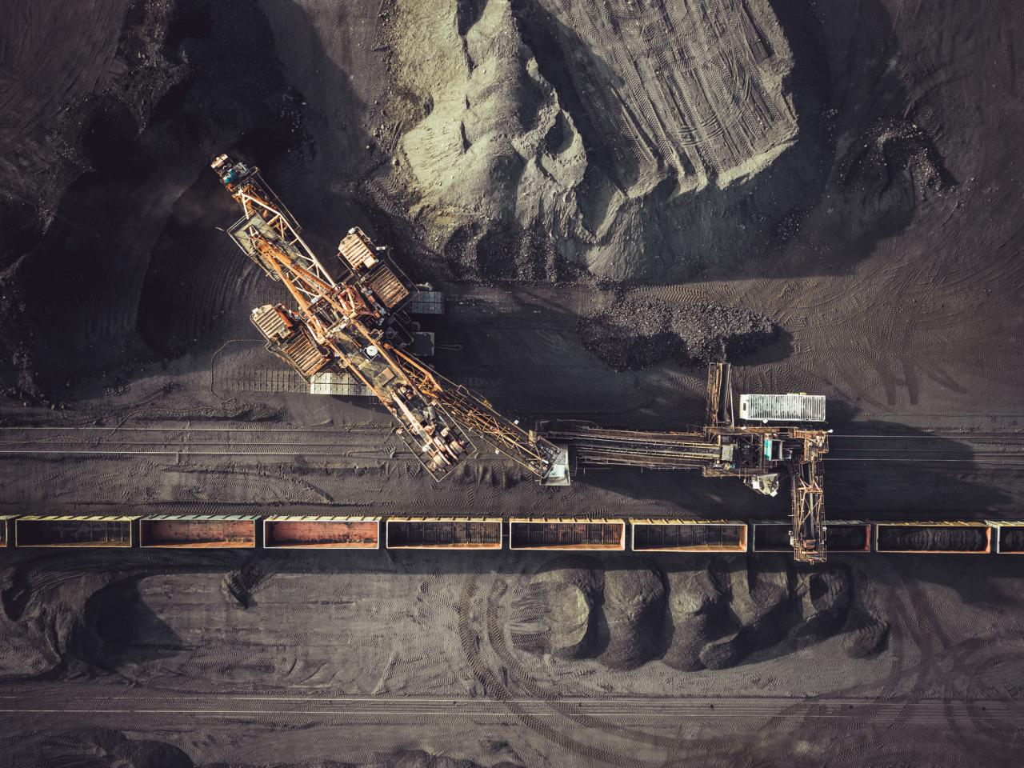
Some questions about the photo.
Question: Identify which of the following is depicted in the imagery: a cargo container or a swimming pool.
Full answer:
This aerial view contains a cargo container.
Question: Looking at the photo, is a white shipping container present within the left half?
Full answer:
No, no white shipping container is visible within the left half.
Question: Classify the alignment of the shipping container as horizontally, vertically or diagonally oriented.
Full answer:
What the image shows is the shipping container lying horizontally.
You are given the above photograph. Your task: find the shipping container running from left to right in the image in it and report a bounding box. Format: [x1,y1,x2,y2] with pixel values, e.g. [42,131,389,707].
[733,391,827,425]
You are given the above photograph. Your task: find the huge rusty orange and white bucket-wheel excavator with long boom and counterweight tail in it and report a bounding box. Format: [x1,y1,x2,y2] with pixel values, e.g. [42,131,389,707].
[210,154,561,482]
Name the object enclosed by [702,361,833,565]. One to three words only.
work vehicle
